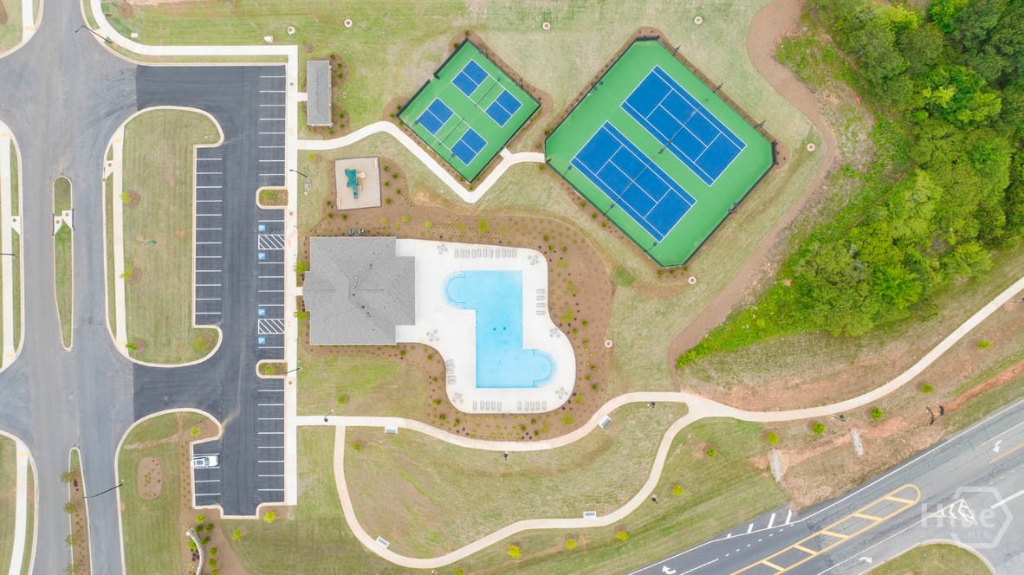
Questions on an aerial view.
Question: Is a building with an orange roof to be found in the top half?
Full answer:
No, no building with an orange roof is visible in the top half.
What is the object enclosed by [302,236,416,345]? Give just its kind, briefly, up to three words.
building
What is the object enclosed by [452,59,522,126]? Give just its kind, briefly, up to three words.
sports court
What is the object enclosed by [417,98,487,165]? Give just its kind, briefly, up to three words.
sports court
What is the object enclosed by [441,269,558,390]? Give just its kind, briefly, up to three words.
swimming pool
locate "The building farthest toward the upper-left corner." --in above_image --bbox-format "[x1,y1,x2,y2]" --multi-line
[306,59,333,128]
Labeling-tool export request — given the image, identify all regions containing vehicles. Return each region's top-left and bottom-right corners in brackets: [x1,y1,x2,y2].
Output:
[191,455,219,467]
